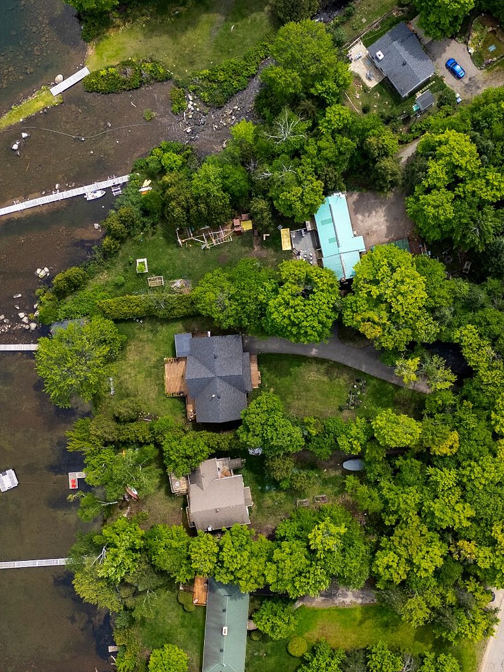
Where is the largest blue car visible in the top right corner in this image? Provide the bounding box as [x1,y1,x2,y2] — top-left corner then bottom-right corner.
[446,57,465,80]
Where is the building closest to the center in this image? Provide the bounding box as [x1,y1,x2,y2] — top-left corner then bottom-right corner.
[164,330,260,422]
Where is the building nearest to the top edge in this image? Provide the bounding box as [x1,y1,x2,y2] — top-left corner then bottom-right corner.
[347,22,436,97]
